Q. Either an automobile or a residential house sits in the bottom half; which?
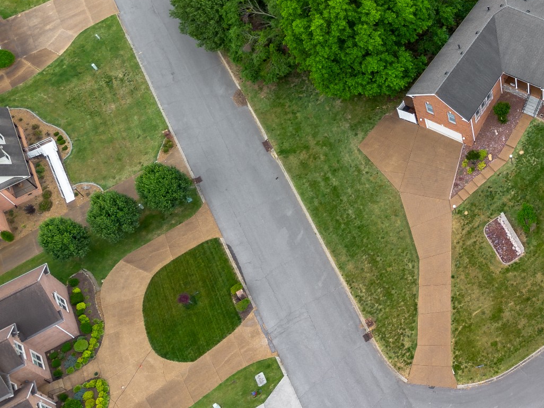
residential house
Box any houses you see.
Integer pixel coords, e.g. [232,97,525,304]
[0,264,80,408]
[0,107,47,215]
[406,0,544,144]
